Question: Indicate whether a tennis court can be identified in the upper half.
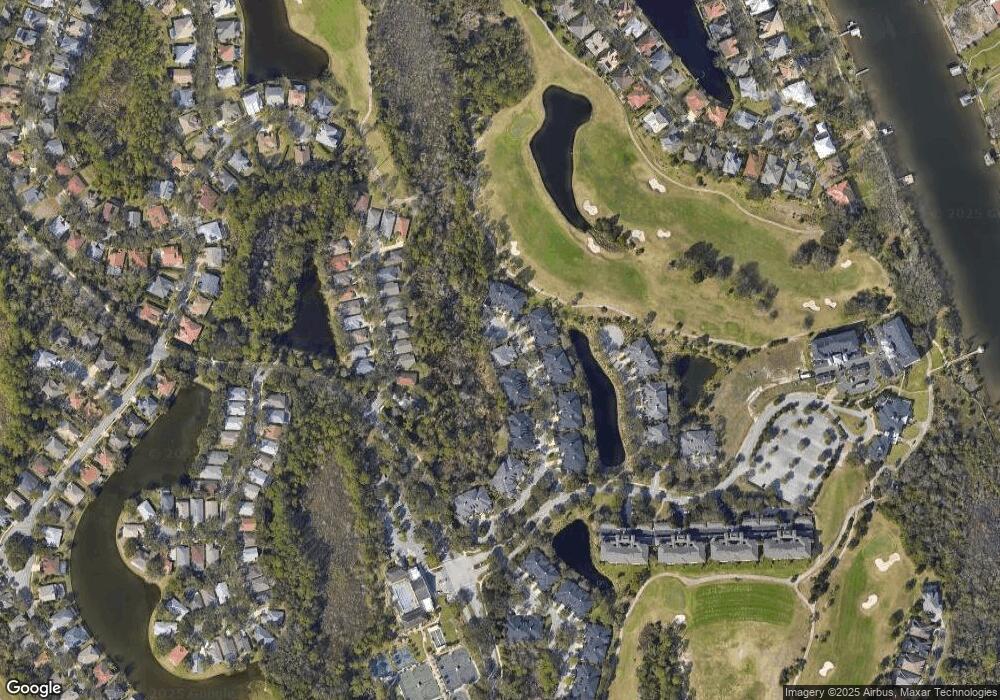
No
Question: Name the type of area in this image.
residential area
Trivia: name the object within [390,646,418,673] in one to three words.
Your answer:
sports court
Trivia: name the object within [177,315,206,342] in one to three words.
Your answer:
house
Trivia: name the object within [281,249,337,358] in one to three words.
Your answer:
pond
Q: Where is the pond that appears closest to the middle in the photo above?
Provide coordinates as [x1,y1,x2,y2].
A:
[570,330,624,467]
